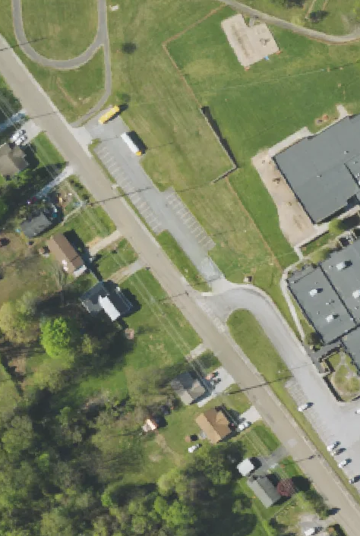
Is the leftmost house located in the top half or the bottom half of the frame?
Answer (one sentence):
It is in the top half that the leftmost house appears.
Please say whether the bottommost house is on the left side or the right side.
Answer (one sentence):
You can find the bottommost house on the right side of the picture.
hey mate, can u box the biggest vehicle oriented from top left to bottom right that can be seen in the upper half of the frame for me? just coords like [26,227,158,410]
[122,133,138,155]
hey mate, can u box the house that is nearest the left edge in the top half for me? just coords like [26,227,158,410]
[0,140,29,180]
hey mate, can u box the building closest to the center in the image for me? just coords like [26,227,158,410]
[84,280,128,325]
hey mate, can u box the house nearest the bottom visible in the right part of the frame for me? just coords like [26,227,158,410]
[246,472,282,510]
